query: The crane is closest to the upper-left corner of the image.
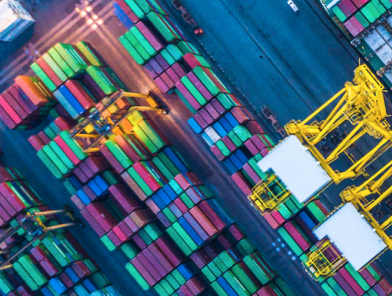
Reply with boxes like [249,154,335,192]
[66,88,165,156]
